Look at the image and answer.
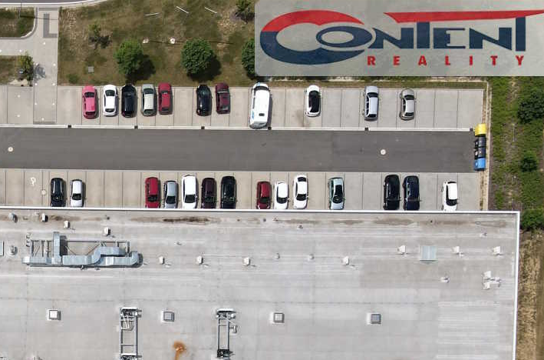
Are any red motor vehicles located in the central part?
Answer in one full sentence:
Yes, a red motor vehicle shows up in the central part.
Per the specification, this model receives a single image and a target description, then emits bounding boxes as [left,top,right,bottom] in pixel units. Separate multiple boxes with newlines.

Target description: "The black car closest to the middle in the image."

[219,176,237,209]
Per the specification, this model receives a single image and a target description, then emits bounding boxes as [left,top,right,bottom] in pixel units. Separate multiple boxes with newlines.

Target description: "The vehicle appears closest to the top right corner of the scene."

[397,90,416,122]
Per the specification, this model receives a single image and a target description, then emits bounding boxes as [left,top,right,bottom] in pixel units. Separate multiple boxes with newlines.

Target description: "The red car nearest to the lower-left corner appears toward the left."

[144,178,159,209]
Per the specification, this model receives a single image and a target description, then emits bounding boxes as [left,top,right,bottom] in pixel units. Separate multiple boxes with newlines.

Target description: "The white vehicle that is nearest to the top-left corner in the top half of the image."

[102,86,117,118]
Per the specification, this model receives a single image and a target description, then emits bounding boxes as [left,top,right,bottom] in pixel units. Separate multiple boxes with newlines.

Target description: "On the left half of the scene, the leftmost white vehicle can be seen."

[69,180,84,208]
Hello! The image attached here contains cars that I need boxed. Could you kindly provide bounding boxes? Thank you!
[163,181,179,209]
[140,85,156,118]
[254,182,271,210]
[157,84,173,116]
[400,175,421,211]
[50,178,66,208]
[397,90,416,122]
[69,180,84,208]
[144,178,159,209]
[291,175,308,210]
[214,84,230,116]
[195,86,212,118]
[381,175,400,211]
[200,179,217,209]
[219,176,237,209]
[81,86,97,120]
[362,88,380,122]
[181,175,198,209]
[326,178,344,210]
[102,86,117,118]
[272,182,290,210]
[121,86,137,119]
[303,86,321,119]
